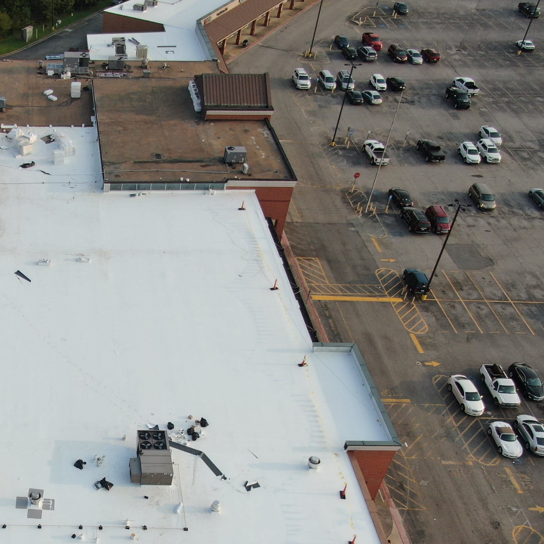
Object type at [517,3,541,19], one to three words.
vehicle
